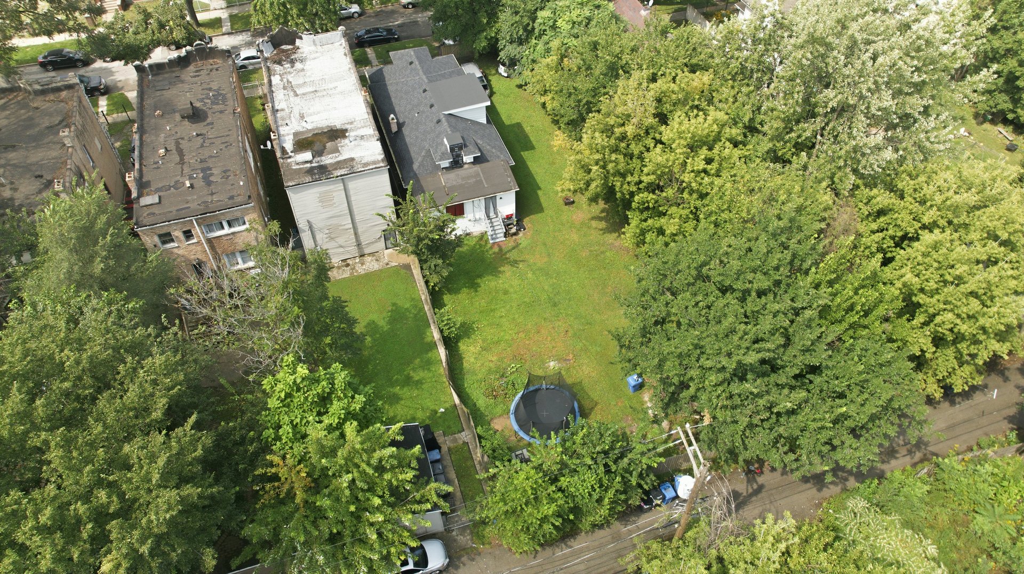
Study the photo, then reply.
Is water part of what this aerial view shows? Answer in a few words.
No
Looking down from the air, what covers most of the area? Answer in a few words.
trees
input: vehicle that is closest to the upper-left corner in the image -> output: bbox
[32,47,88,71]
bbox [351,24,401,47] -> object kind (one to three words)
car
